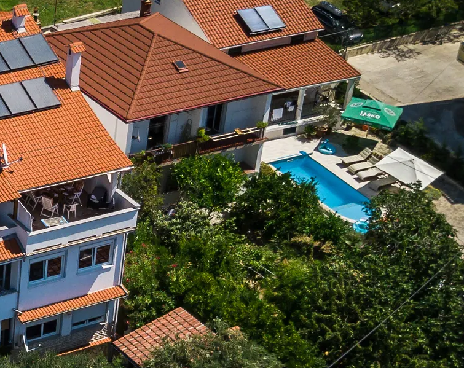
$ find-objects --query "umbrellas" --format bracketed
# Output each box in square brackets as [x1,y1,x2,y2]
[335,98,409,148]
[370,150,451,202]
